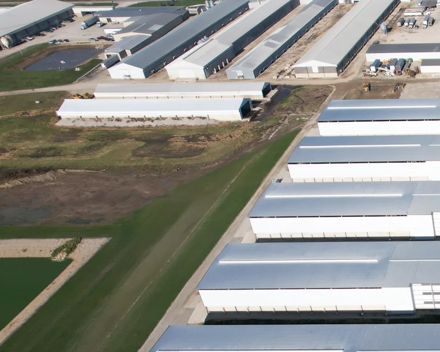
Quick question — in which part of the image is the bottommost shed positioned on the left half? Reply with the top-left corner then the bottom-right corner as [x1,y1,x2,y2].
[55,99,254,119]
